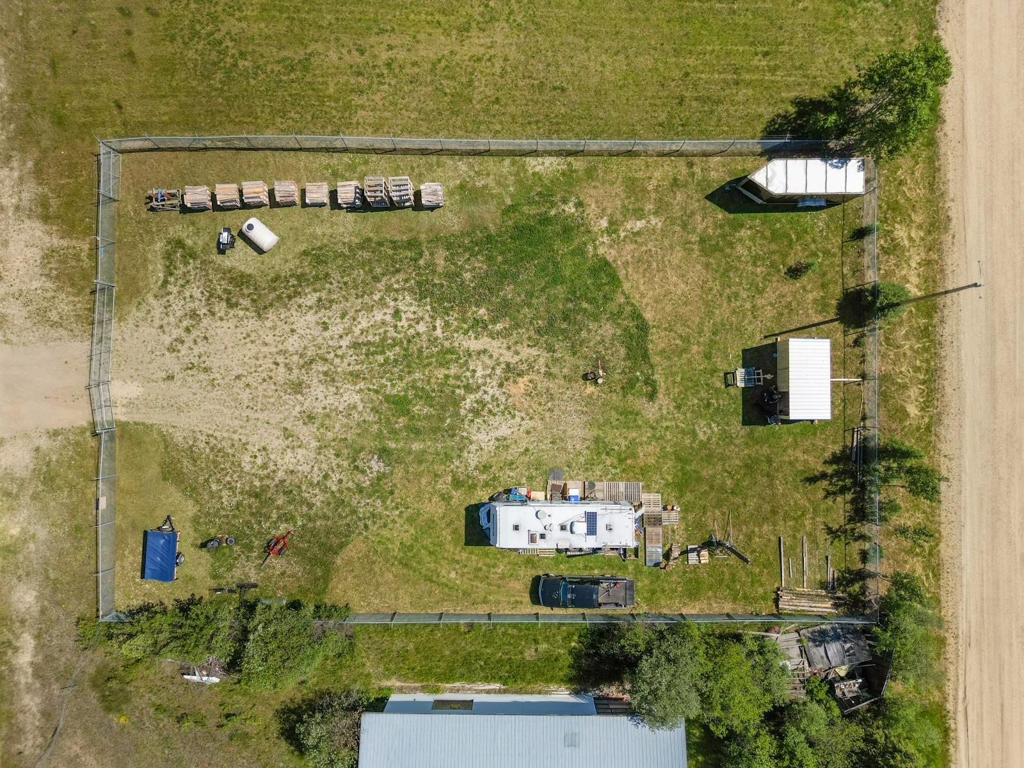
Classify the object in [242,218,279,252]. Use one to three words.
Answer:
water tank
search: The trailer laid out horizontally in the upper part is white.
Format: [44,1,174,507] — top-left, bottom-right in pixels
[722,158,865,208]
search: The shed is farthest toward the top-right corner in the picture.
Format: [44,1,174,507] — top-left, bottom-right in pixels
[773,336,832,421]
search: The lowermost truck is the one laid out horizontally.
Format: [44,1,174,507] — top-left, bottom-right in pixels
[537,573,634,612]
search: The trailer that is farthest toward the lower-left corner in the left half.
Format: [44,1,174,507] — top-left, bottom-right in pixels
[144,514,184,582]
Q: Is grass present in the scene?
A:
Yes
